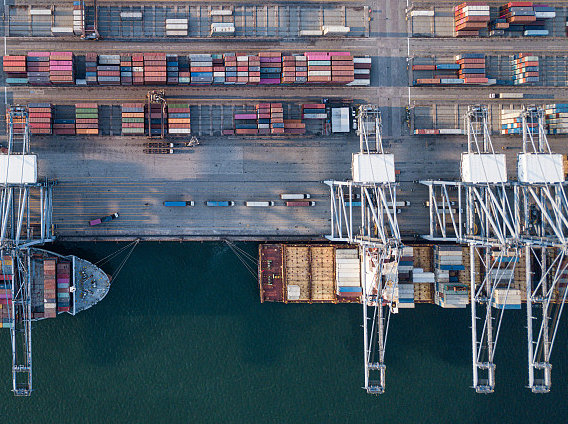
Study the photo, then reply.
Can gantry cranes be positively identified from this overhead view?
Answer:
Yes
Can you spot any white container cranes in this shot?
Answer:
Yes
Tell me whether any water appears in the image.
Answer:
Yes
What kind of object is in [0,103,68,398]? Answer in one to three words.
container crane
